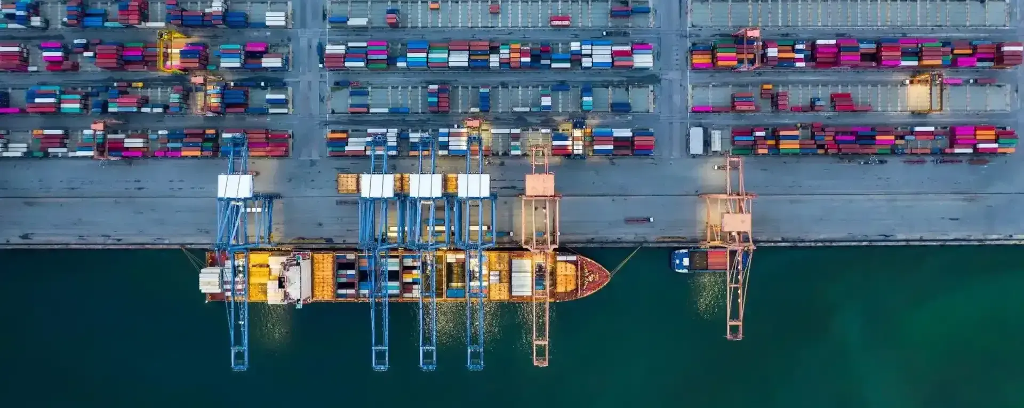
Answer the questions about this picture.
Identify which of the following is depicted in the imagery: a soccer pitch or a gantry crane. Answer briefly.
gantry crane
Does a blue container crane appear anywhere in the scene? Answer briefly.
Yes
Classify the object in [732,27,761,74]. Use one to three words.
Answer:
container crane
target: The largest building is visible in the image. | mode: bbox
[687,127,703,155]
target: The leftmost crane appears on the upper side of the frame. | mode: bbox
[91,120,127,160]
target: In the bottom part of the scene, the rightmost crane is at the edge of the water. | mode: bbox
[691,152,763,341]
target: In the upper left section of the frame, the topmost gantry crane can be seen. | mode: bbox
[158,31,196,76]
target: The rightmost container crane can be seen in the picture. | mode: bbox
[910,71,946,114]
